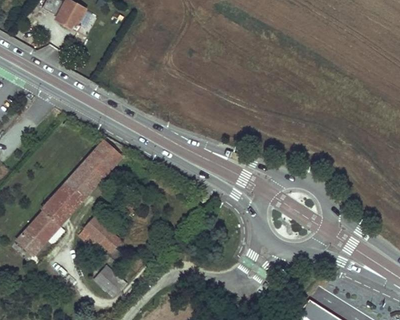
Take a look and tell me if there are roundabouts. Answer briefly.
Yes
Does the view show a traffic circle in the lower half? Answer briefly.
Yes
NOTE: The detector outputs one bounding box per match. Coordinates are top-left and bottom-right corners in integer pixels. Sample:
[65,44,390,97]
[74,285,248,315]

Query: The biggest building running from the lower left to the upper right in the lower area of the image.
[16,140,123,256]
